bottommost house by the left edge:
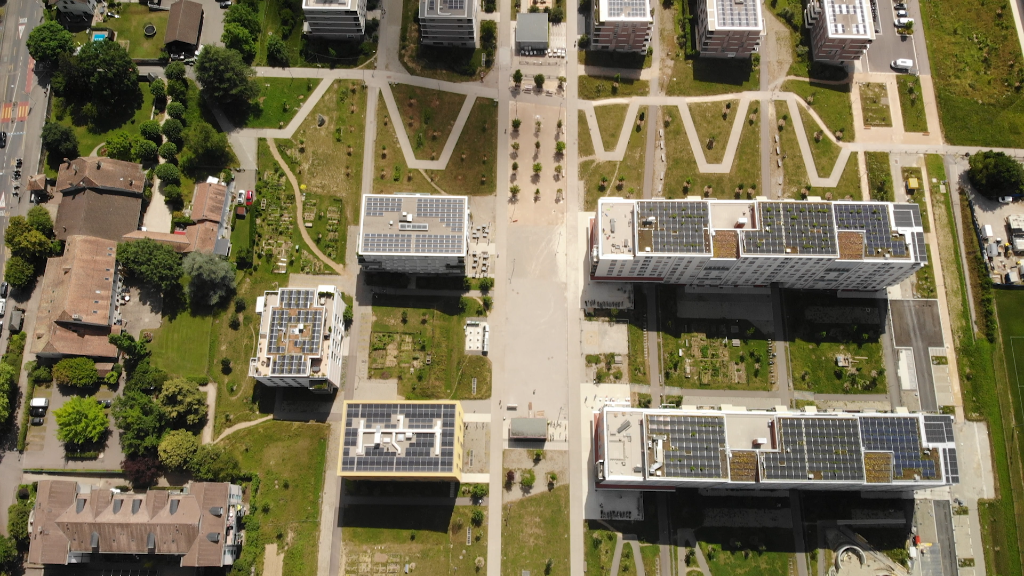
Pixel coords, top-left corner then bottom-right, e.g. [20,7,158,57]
[28,479,244,567]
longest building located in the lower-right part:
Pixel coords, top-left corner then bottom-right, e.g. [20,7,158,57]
[590,401,959,492]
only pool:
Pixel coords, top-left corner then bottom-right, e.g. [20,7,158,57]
[91,29,117,43]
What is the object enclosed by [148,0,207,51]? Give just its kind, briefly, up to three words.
barn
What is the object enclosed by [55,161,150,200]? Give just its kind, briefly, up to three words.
house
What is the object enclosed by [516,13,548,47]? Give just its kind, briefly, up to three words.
building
